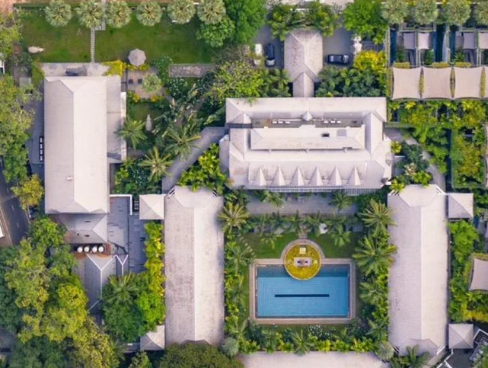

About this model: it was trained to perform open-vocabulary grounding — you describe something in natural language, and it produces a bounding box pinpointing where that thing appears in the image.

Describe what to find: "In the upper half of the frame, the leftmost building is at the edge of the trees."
[30,63,126,213]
